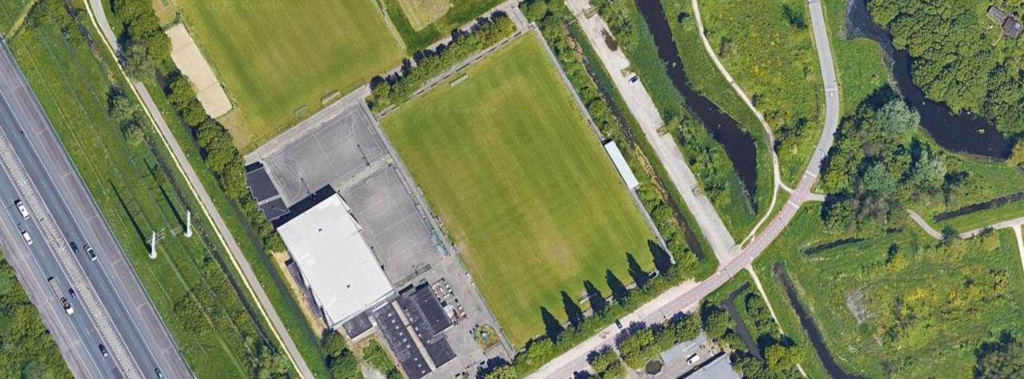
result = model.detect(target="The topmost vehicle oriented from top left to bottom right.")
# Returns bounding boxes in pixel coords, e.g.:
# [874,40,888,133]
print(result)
[16,200,30,220]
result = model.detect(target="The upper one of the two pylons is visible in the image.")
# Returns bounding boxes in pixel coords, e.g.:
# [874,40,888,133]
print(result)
[177,210,193,239]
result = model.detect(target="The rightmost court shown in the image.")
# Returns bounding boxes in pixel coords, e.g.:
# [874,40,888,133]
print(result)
[342,162,447,284]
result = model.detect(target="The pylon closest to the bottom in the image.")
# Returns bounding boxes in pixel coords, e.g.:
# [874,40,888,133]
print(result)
[149,232,161,261]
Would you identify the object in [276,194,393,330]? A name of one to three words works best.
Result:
building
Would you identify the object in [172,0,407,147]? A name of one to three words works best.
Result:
soccer field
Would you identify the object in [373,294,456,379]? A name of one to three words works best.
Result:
building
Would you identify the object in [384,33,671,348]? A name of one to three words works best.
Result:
soccer field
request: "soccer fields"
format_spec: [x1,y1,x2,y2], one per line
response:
[172,0,407,147]
[384,33,671,348]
